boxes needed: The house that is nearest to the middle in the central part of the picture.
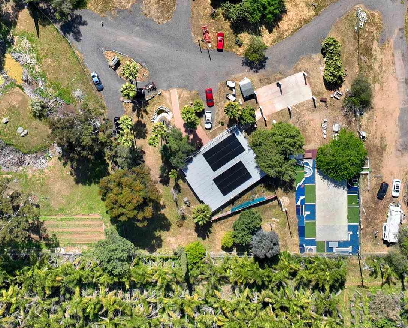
[183,125,267,211]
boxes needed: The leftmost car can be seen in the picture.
[90,71,105,91]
